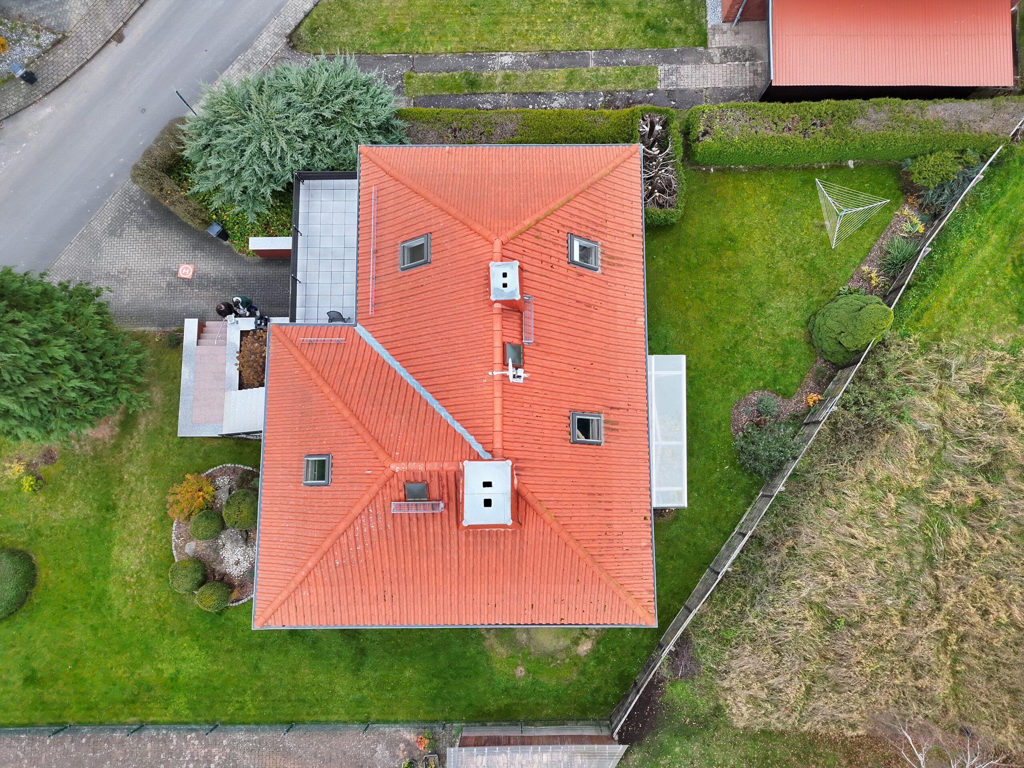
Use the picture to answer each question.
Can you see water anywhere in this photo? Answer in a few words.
No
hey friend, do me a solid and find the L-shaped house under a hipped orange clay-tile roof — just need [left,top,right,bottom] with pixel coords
[250,142,658,630]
